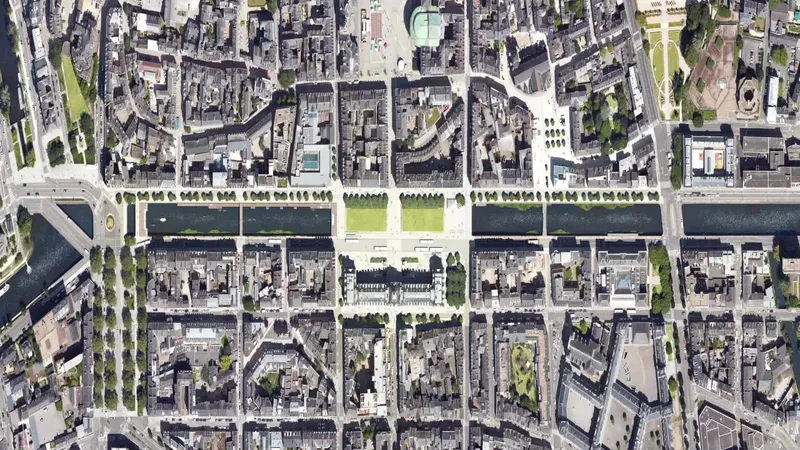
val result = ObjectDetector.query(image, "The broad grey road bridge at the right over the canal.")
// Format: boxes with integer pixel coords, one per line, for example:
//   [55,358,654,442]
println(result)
[661,203,684,238]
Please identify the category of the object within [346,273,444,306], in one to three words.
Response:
building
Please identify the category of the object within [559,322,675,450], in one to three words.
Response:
building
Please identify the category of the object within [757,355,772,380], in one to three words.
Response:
house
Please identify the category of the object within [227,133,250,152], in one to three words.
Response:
house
